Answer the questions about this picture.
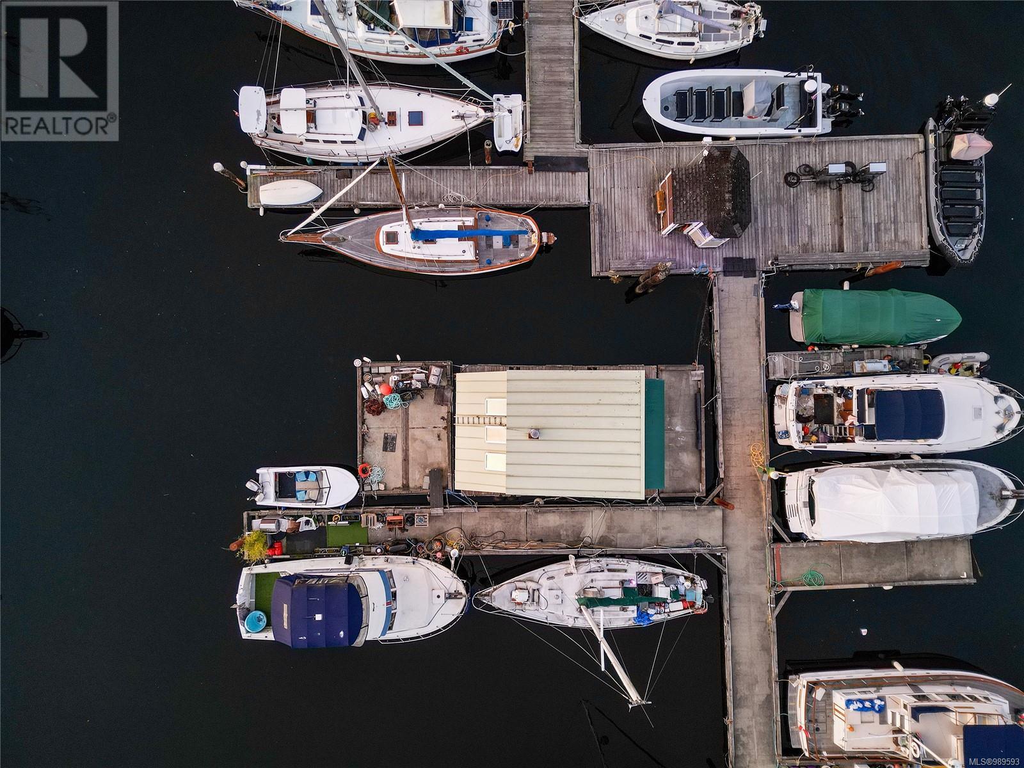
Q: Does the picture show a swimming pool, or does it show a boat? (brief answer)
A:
boat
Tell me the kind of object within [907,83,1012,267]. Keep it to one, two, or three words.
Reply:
boat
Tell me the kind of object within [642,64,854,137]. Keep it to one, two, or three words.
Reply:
boat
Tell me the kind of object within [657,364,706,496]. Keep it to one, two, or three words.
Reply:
pier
